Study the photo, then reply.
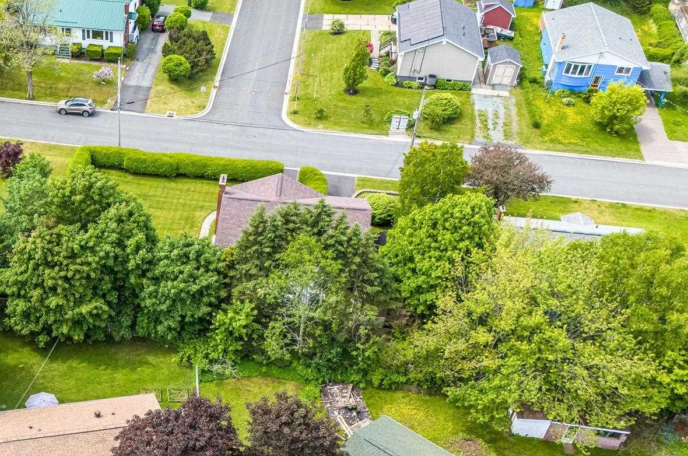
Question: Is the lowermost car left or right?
left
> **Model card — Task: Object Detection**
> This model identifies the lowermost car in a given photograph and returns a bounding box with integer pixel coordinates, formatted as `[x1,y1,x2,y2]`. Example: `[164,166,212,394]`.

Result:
[56,100,97,121]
